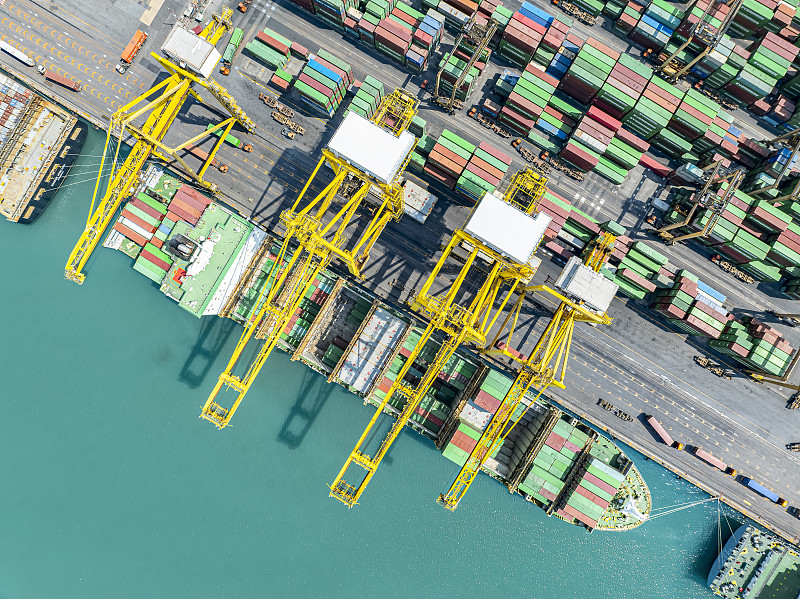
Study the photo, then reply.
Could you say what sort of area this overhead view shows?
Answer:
port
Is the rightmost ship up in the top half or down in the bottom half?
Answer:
bottom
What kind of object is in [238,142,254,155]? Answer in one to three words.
vehicle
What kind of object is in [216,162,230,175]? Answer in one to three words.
vehicle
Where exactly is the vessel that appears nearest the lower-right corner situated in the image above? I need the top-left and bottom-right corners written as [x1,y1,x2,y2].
[708,522,800,599]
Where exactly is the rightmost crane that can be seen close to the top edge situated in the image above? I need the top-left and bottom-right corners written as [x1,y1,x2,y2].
[654,0,746,84]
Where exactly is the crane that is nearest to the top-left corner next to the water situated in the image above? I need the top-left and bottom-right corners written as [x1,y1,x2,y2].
[54,3,261,288]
